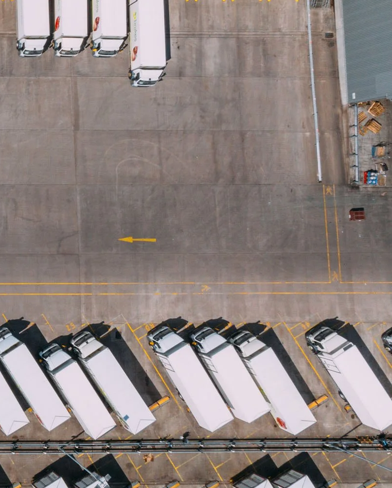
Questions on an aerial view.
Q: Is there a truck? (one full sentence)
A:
Yes, there's a truck down there.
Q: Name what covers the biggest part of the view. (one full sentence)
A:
The bulk of the photo consists of paved ground.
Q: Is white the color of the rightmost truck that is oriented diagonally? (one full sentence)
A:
Yes, the rightmost truck that is oriented diagonally appears white.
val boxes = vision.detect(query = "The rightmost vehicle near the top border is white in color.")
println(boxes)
[126,0,166,91]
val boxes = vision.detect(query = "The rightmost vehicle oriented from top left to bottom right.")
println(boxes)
[303,325,392,431]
